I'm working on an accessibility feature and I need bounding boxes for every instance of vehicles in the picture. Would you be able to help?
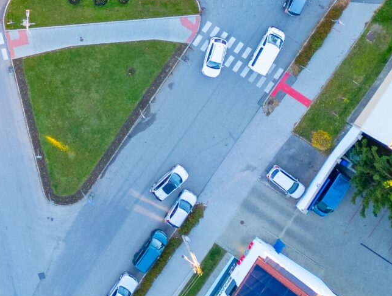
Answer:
[130,229,170,275]
[313,169,357,219]
[264,163,302,197]
[248,26,283,78]
[161,189,199,230]
[105,272,139,296]
[283,0,306,18]
[201,35,229,79]
[149,165,189,202]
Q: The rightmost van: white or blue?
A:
blue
